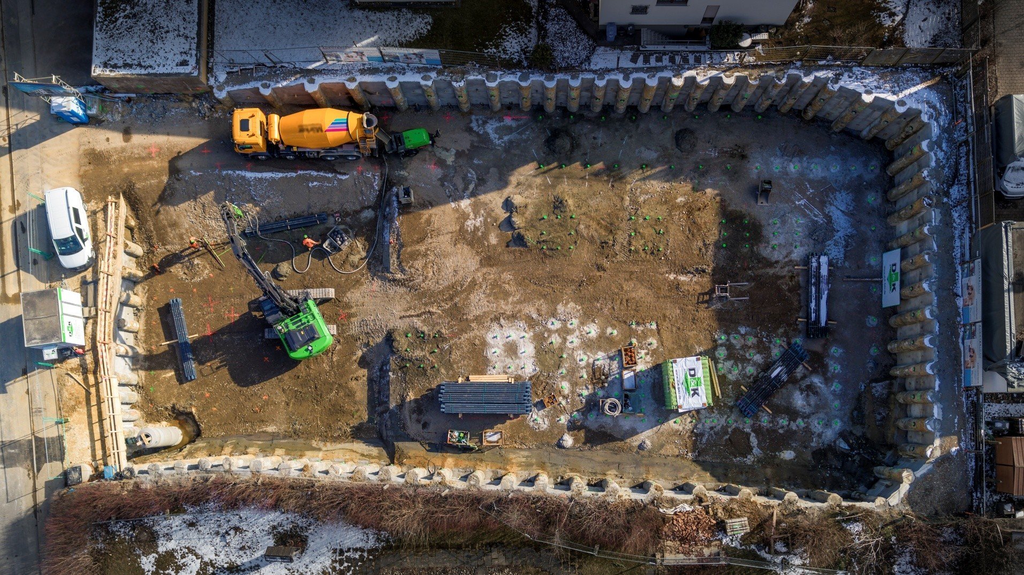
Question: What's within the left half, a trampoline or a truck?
truck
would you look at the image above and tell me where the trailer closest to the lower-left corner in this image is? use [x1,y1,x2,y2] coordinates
[22,287,86,369]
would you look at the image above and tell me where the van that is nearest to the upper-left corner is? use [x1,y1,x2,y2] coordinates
[45,187,99,272]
